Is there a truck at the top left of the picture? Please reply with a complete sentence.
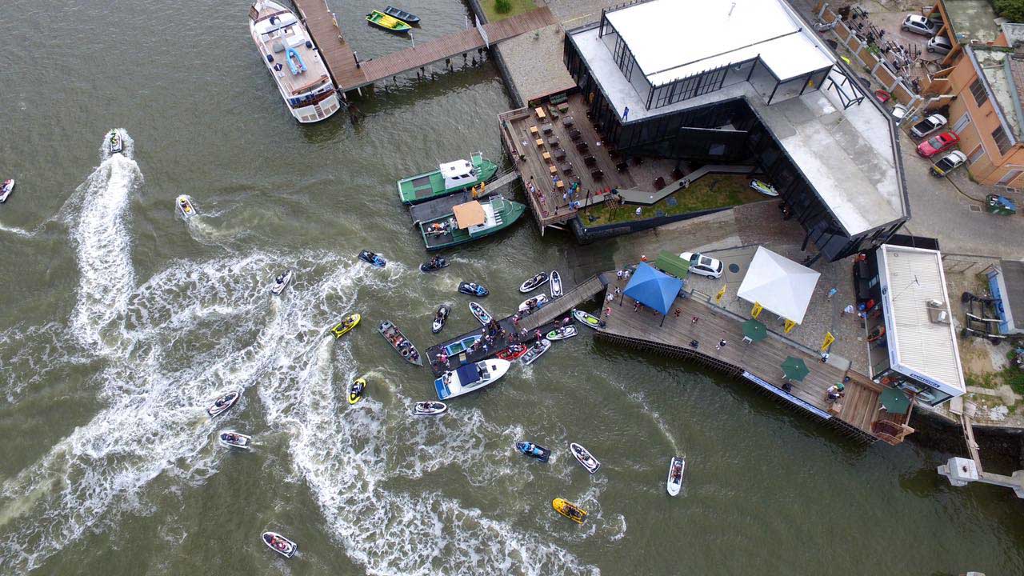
No, the scene shows no truck at the top left of the picture.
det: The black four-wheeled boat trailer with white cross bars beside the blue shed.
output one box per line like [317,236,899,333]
[964,287,1013,342]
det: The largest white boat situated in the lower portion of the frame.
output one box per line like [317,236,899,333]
[434,356,511,403]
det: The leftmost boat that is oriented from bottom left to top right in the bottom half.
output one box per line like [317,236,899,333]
[206,391,241,421]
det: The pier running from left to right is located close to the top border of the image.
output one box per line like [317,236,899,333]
[292,0,558,98]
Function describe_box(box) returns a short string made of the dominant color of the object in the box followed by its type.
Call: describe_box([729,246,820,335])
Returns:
white gazebo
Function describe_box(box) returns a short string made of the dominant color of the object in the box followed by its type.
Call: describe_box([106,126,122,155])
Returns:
white boat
